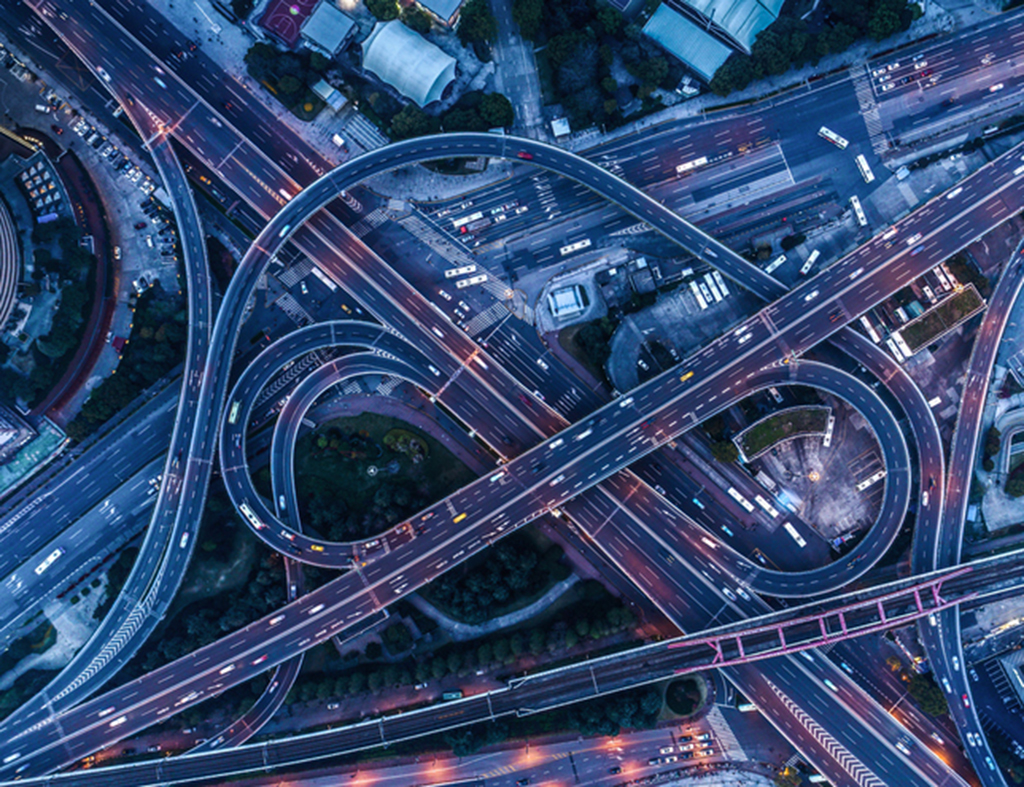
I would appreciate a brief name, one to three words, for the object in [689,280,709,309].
bus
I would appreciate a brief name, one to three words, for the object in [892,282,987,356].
building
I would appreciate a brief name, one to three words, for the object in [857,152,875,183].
vehicle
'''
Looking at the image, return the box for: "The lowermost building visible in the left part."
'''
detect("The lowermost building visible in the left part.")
[334,604,390,643]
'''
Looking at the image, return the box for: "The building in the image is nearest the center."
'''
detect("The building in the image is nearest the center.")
[549,286,586,317]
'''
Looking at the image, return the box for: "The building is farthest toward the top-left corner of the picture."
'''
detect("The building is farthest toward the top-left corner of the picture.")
[0,150,81,227]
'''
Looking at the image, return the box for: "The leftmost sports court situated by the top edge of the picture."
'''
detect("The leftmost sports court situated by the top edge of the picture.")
[258,0,324,44]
